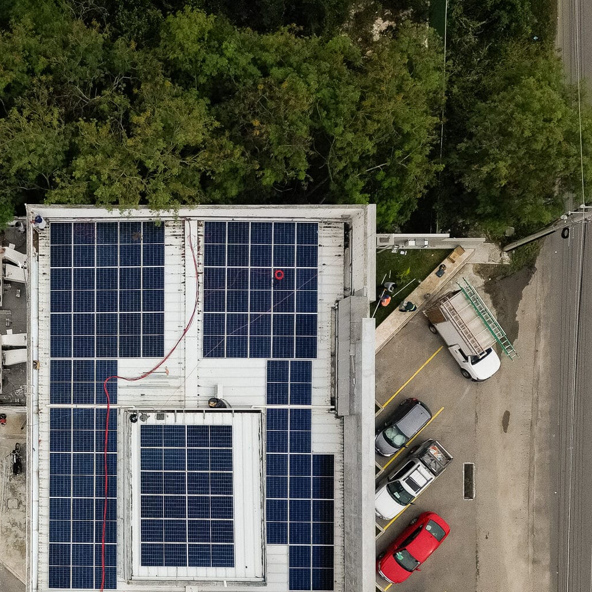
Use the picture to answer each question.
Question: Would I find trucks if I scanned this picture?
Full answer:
Yes, there's a truck here.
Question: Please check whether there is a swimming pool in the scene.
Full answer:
No, the frame has no swimming pool in it.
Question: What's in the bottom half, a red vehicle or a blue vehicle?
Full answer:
Visible in the bottom half is a red vehicle.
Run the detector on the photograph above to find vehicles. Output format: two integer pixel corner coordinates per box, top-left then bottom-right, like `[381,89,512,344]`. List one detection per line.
[6,442,22,475]
[380,512,448,583]
[427,291,498,376]
[375,396,434,461]
[375,438,460,518]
